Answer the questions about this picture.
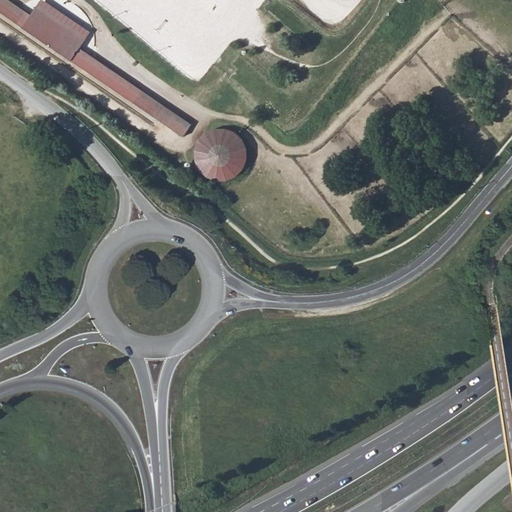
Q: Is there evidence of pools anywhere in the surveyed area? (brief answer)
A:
No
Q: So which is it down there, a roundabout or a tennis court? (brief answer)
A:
roundabout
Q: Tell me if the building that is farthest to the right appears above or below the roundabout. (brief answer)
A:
above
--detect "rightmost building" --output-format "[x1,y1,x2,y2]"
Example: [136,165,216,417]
[194,129,246,184]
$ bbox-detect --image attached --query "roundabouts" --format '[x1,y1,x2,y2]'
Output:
[82,216,228,359]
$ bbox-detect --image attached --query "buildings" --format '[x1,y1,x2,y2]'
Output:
[22,0,90,60]
[72,50,191,136]
[194,129,246,184]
